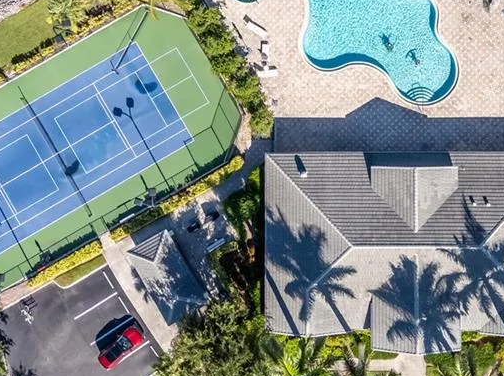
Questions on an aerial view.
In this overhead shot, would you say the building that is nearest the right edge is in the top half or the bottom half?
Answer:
bottom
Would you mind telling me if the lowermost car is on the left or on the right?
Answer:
left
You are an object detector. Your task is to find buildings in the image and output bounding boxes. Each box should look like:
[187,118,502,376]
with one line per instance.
[264,152,504,358]
[126,229,210,324]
